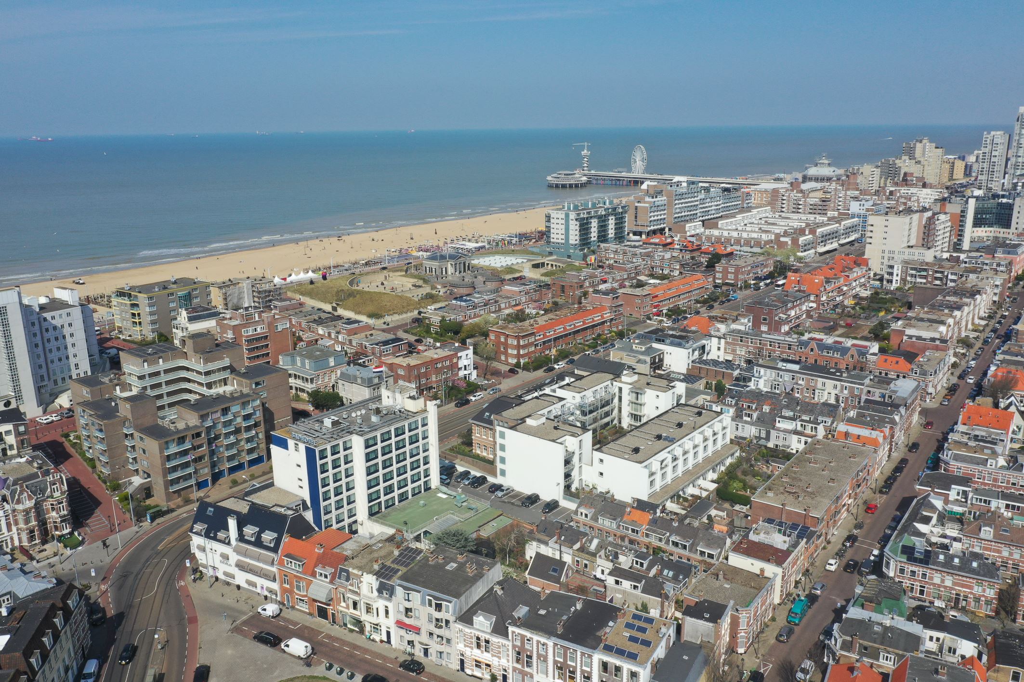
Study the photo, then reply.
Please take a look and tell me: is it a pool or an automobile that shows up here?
automobile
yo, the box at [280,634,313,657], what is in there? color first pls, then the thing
white vehicle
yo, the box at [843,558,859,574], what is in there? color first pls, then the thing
black car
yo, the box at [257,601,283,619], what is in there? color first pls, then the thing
white vehicle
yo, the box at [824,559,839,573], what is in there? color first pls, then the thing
white car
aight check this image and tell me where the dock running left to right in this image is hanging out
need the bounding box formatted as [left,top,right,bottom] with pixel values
[580,170,793,187]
